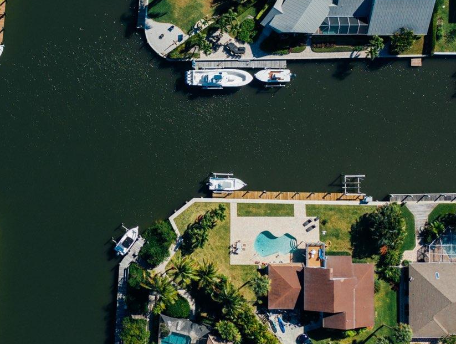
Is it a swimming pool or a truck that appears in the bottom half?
swimming pool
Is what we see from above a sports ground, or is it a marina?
marina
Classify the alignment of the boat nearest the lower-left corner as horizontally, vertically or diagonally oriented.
diagonally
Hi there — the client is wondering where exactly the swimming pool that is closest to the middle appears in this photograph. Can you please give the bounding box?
[252,230,298,258]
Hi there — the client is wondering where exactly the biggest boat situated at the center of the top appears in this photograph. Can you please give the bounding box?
[186,70,254,86]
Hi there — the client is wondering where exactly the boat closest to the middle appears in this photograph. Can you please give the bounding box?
[207,178,248,191]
